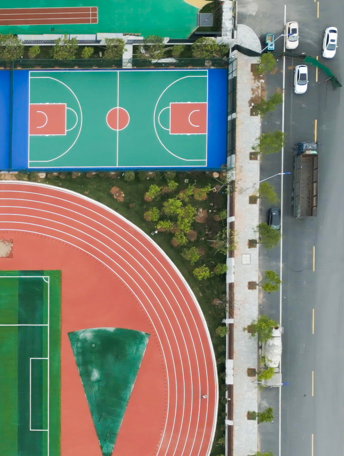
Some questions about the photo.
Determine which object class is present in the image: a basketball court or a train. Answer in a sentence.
Of the two, only a basketball court appears.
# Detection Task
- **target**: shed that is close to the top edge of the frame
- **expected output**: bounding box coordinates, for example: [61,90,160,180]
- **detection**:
[193,13,213,32]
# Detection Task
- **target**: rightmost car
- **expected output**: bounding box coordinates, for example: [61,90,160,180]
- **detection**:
[319,27,338,59]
